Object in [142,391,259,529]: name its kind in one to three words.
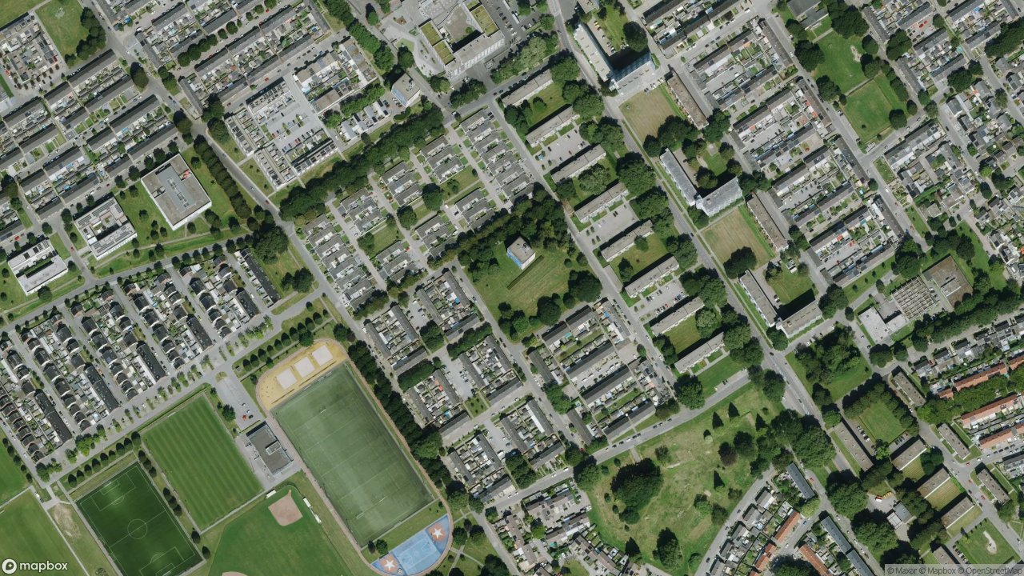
sports field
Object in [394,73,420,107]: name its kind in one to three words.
building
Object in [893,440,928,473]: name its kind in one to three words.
building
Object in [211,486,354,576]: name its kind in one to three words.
baseball field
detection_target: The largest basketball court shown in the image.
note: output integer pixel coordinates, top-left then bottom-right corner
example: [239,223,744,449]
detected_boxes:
[371,514,450,575]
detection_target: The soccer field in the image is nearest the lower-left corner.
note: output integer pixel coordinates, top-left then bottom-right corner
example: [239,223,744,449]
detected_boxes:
[76,461,205,576]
